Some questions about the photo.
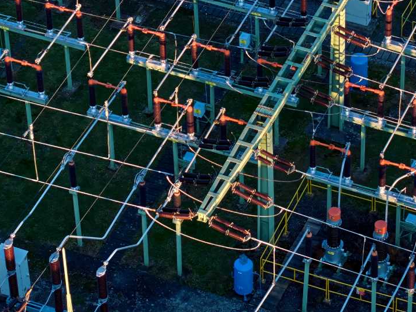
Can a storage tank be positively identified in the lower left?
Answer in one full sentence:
No, there is no storage tank in the lower left.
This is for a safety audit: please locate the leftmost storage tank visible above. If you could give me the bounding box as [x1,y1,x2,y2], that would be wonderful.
[234,255,265,296]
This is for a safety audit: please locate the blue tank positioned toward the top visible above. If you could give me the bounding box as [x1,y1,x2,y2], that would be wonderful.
[354,51,382,89]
